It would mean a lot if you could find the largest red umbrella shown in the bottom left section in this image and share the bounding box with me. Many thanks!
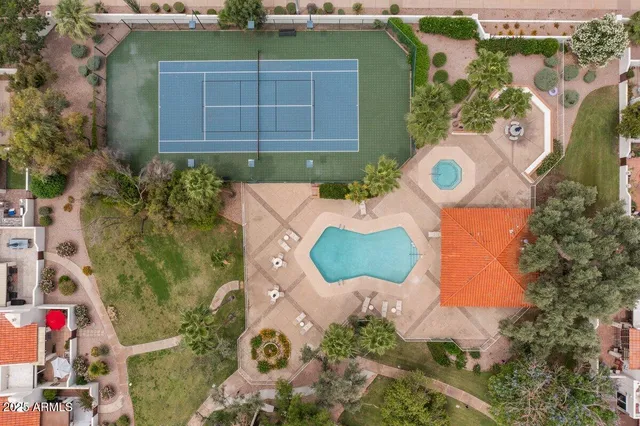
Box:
[45,309,68,330]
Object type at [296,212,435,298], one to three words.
swimming pool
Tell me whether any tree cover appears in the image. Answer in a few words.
Yes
